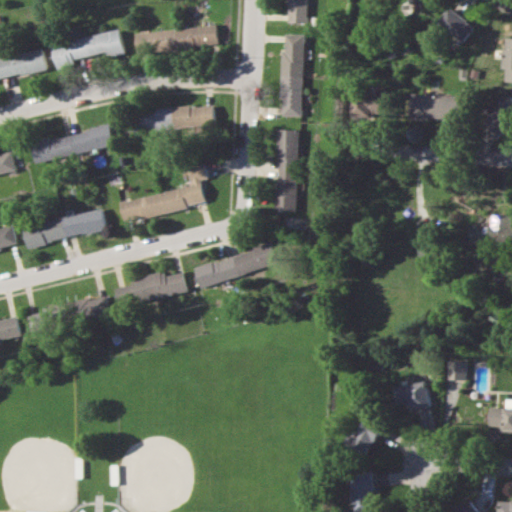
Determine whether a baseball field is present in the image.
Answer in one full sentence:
Yes, you can see a baseball field in this photo.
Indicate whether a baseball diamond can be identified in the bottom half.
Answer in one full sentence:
Yes, a baseball diamond can be seen in the bottom half.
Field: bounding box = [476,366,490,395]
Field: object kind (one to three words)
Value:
swimming pool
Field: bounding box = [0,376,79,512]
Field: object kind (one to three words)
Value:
baseball field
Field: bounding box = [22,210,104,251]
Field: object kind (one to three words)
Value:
house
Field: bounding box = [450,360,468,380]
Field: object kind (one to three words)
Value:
building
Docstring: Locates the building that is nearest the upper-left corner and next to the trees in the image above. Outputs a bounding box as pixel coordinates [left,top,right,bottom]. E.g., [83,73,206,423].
[0,51,48,80]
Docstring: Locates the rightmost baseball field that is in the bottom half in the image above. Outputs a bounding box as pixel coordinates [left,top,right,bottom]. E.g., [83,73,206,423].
[76,318,328,512]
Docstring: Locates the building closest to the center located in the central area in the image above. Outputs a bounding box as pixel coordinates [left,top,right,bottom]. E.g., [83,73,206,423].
[194,246,276,288]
